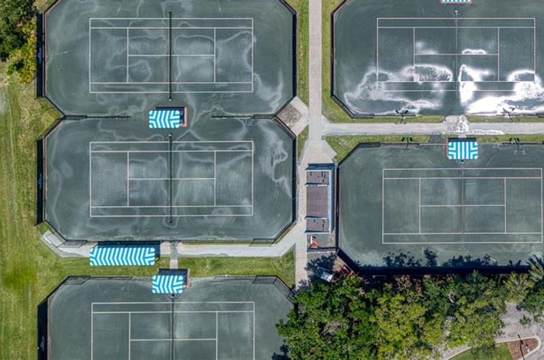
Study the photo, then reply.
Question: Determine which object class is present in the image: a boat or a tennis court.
tennis court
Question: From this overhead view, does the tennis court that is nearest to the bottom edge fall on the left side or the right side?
left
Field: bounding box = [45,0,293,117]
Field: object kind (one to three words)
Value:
tennis court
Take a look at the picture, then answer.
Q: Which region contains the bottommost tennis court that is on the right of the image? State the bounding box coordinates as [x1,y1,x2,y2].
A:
[338,143,544,271]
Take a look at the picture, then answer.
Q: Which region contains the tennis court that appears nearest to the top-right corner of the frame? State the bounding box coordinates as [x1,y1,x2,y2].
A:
[332,0,544,116]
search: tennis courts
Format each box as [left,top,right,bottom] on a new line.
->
[46,277,294,360]
[338,143,544,271]
[332,0,544,116]
[45,0,293,117]
[45,117,293,242]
